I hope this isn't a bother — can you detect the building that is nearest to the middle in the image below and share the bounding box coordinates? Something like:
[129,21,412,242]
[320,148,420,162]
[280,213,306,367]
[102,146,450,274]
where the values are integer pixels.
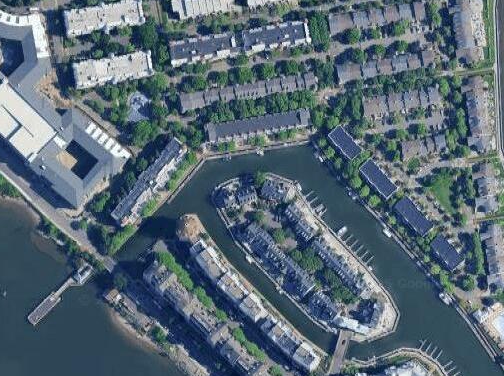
[237,178,257,205]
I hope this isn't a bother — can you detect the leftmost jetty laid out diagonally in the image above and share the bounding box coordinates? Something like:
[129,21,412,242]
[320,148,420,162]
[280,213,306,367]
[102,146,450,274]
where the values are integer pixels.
[28,262,95,325]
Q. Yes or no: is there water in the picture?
Yes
